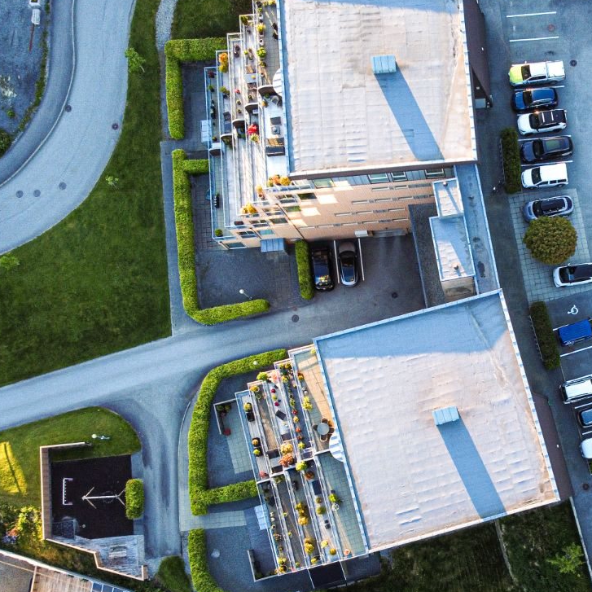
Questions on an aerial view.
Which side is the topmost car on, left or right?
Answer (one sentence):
The topmost car appears in the right half of the scene.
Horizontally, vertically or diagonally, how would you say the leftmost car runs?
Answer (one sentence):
The leftmost car is oriented vertically.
